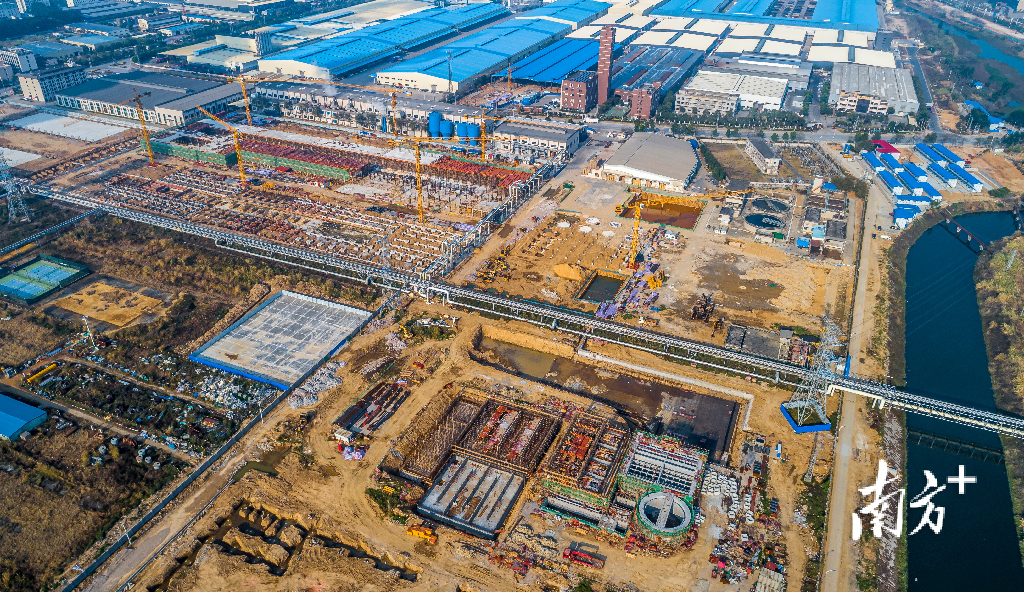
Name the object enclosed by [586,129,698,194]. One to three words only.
building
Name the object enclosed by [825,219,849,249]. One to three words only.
house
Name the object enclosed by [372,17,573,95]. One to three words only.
building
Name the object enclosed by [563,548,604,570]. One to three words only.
truck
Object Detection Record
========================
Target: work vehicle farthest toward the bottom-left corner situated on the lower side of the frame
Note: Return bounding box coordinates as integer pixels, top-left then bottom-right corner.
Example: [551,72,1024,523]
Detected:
[296,410,309,430]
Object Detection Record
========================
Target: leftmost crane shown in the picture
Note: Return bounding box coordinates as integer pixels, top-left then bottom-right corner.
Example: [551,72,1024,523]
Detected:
[63,89,159,168]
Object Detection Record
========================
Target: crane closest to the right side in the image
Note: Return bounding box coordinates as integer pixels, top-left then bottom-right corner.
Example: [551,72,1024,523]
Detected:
[614,188,755,271]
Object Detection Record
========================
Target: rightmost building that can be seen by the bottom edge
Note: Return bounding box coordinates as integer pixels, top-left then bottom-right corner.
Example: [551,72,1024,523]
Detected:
[753,564,790,592]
